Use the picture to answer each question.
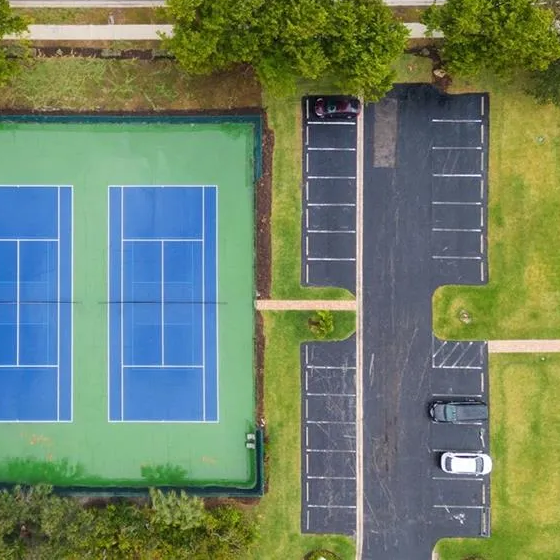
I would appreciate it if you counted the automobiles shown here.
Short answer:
3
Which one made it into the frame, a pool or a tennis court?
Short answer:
tennis court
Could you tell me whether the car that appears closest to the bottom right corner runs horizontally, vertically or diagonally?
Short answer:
horizontally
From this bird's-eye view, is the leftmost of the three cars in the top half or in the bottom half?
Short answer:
top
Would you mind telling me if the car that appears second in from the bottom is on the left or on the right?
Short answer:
right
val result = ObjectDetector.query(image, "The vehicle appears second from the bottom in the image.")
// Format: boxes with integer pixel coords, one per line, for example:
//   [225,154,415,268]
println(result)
[428,399,487,423]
